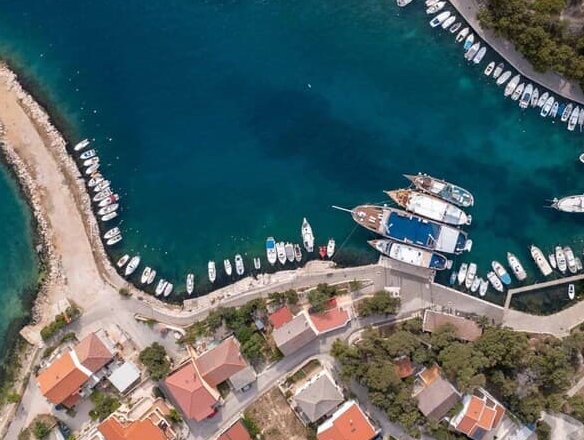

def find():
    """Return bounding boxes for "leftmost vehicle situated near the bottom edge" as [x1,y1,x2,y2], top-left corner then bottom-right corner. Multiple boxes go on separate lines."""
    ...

[60,421,73,437]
